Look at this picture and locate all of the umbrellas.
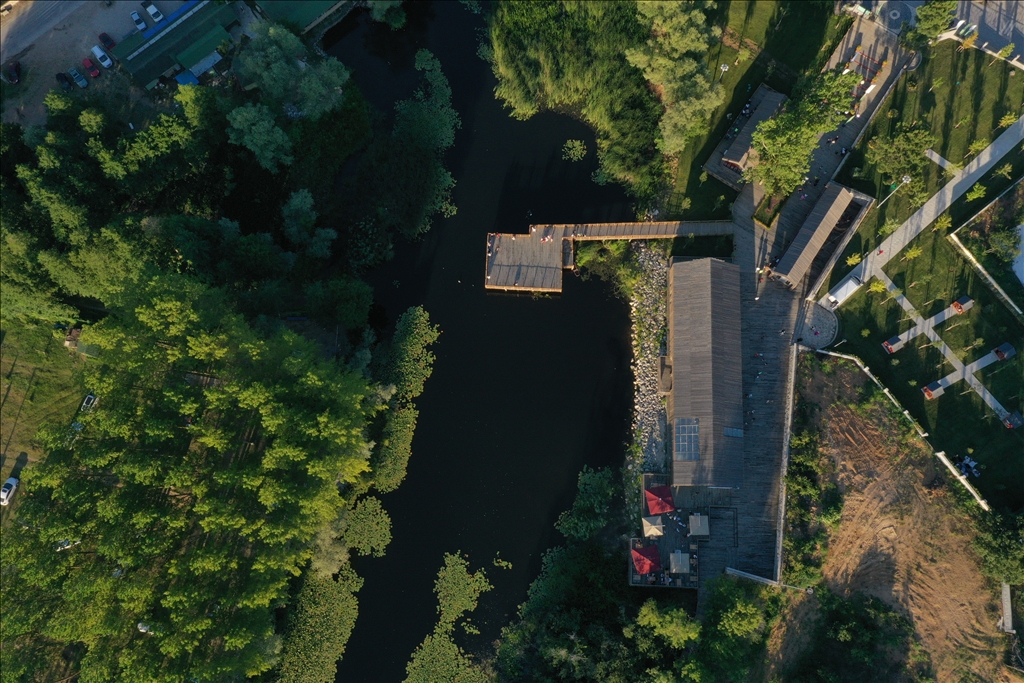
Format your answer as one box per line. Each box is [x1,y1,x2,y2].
[639,514,666,537]
[668,545,691,574]
[686,509,709,537]
[643,483,675,515]
[632,545,664,577]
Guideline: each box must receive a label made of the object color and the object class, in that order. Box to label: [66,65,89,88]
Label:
blue car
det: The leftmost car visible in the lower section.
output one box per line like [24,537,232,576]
[0,475,23,505]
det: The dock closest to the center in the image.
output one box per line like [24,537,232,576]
[486,224,573,294]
